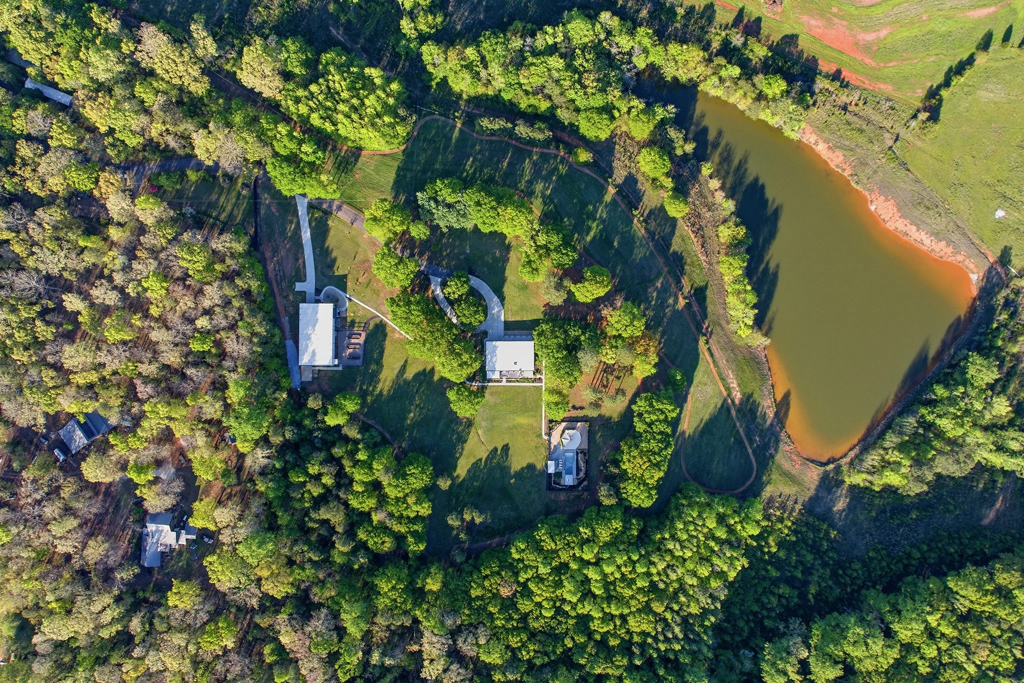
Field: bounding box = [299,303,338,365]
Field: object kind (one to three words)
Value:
barn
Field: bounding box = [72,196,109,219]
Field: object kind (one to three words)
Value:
house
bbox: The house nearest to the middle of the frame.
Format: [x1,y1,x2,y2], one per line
[486,341,534,379]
